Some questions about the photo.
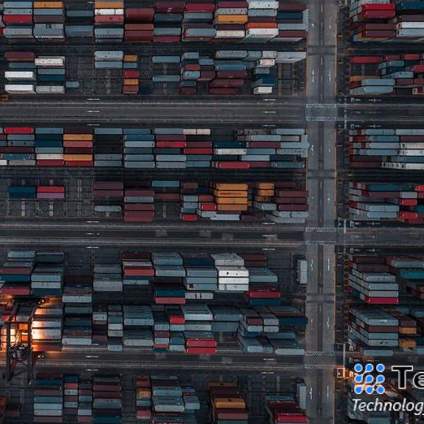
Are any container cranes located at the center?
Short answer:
No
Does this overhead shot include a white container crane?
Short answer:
No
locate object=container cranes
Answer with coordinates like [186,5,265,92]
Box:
[9,297,47,381]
